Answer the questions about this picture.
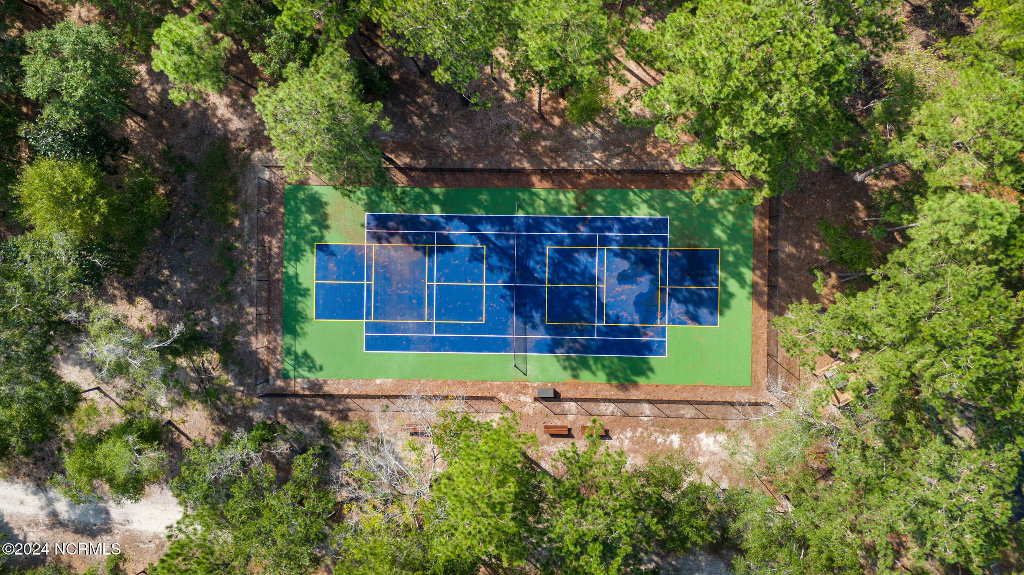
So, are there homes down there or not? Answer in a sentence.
No, the frame has no home in it.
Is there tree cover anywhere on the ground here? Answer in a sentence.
Yes, some tree cover is visible.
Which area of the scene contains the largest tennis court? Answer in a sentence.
The largest tennis court sits in the center section of the image.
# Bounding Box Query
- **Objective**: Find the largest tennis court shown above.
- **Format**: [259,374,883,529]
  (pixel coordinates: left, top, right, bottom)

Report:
[284,185,756,387]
